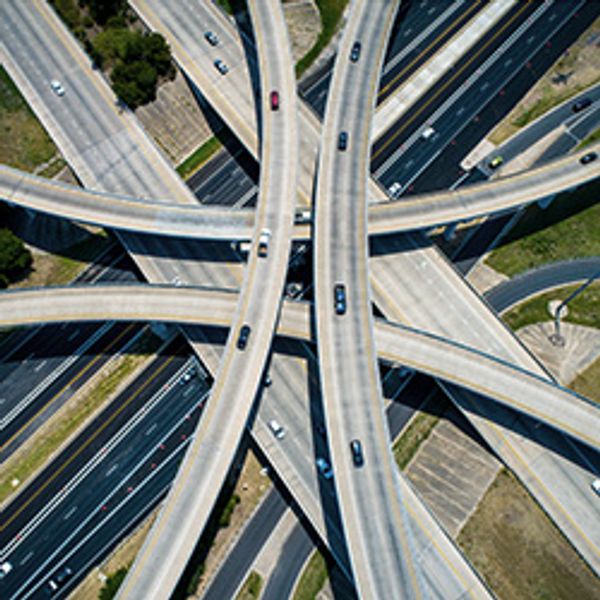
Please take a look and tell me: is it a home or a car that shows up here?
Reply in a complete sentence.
This aerial view contains a car.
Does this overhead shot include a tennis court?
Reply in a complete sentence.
No, I can see no tennis court in this picture.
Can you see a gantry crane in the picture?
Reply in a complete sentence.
No, the scene contains no gantry crane.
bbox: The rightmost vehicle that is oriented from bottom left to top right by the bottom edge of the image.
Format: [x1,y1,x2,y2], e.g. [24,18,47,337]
[47,565,76,594]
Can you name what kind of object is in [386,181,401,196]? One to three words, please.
car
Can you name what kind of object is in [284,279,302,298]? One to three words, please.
car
